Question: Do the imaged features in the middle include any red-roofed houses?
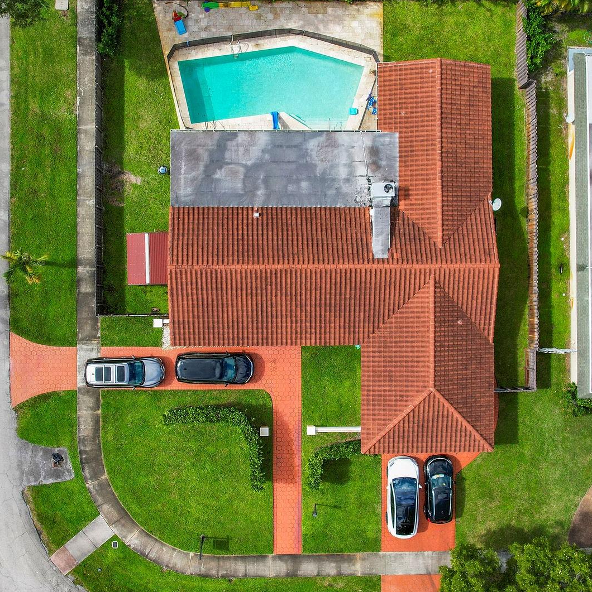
Yes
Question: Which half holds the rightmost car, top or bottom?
bottom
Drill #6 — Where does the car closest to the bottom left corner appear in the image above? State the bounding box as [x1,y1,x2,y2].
[83,354,162,393]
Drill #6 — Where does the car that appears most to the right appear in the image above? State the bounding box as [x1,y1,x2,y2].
[424,458,460,525]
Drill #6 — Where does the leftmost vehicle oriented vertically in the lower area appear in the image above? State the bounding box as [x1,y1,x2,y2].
[385,459,424,538]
